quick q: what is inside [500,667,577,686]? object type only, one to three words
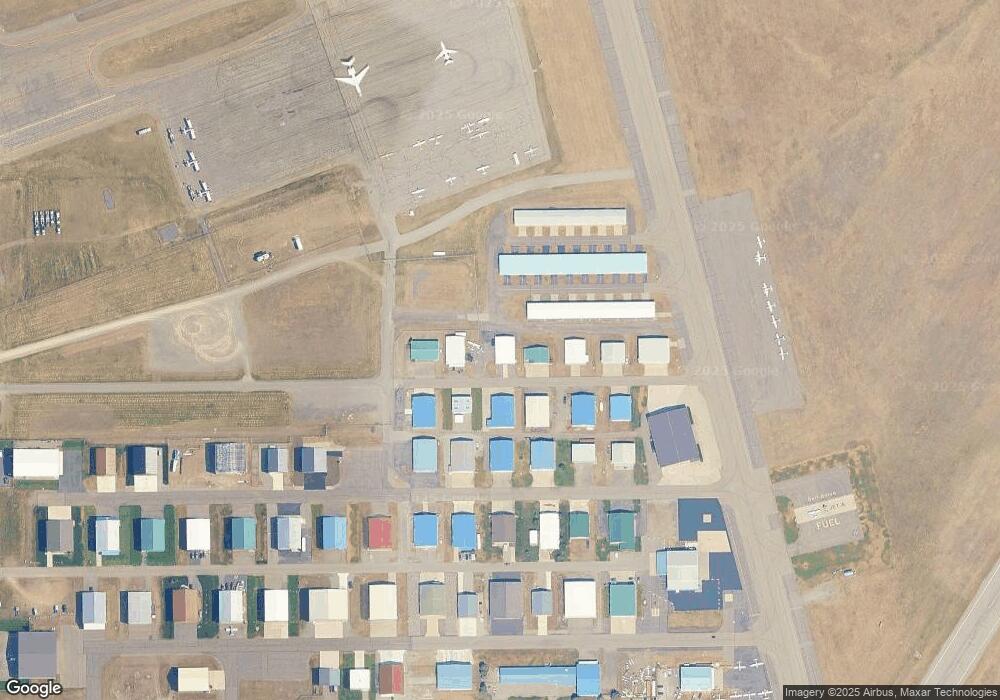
building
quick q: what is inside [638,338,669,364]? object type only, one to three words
hangar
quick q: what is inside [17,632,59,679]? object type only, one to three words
hangar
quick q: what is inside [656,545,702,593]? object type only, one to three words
building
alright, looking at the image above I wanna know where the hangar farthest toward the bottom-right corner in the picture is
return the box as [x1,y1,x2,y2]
[681,667,713,691]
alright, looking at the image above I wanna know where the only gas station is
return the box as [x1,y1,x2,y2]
[774,466,864,557]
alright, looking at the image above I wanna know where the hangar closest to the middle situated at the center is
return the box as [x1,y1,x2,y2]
[495,336,515,364]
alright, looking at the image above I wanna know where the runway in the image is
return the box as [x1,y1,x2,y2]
[0,0,310,165]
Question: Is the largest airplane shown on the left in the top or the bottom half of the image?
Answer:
top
